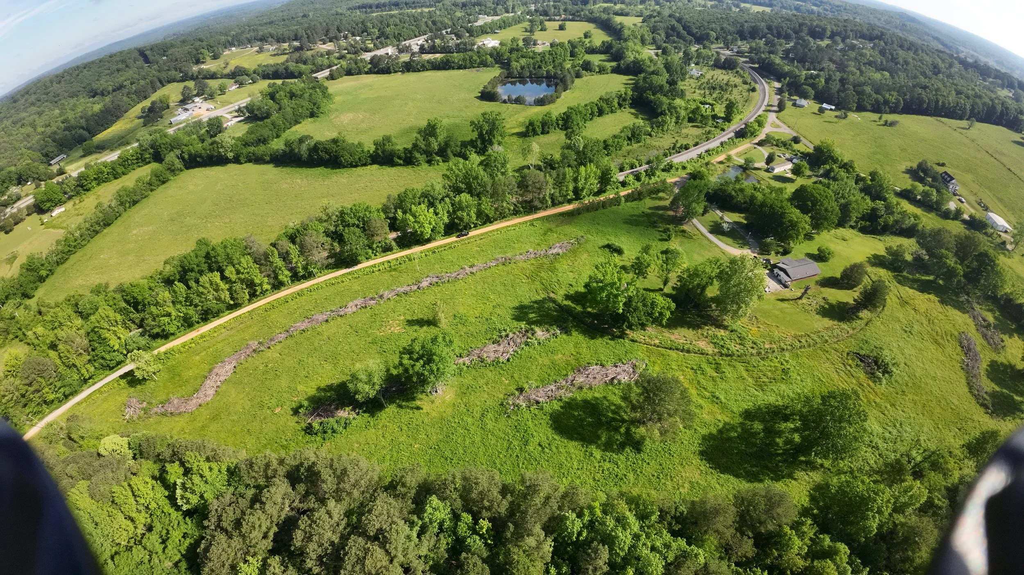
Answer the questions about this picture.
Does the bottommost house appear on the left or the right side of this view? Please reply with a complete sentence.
You can find the bottommost house on the right side of the picture.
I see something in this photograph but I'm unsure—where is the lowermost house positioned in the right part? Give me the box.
[772,250,821,282]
